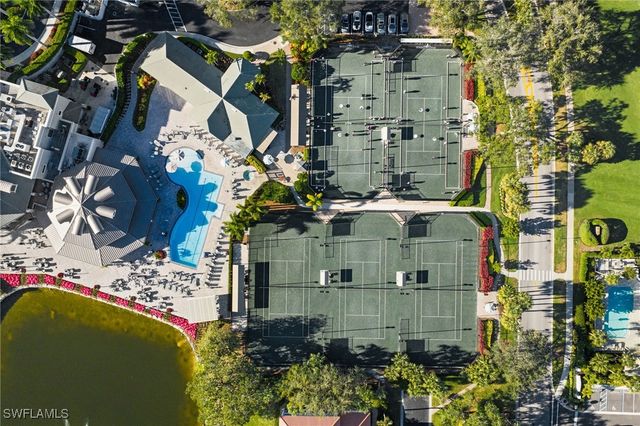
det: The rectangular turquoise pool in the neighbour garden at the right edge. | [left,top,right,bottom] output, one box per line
[605,285,635,339]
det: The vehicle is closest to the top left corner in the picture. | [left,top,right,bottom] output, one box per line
[67,34,98,55]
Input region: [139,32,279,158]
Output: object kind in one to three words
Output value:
building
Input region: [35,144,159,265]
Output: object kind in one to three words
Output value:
building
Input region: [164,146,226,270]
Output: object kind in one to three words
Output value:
swimming pool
